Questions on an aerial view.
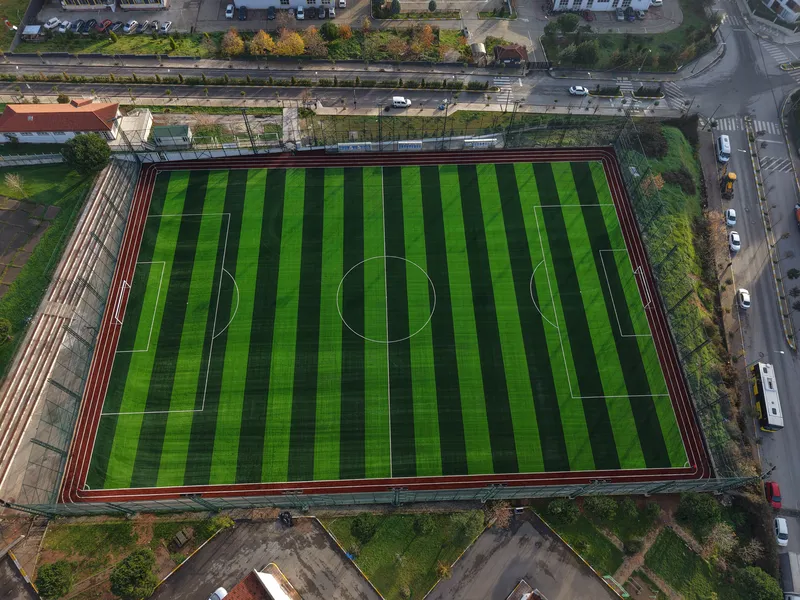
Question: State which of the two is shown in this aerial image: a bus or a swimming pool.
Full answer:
Looking from above, you can make out a bus.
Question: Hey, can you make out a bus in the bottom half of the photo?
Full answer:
Yes, looking in the bottom half of the photo, one can make out a bus.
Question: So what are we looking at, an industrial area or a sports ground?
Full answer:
The area seen from above is a sports ground.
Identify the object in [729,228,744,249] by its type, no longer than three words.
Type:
car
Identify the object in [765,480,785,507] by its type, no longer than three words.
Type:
car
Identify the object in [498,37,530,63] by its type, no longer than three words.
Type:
building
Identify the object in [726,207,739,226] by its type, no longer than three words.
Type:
vehicle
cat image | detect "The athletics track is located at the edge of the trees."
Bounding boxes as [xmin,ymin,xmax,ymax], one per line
[55,148,718,504]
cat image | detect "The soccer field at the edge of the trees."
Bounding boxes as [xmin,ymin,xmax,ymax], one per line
[83,160,691,491]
